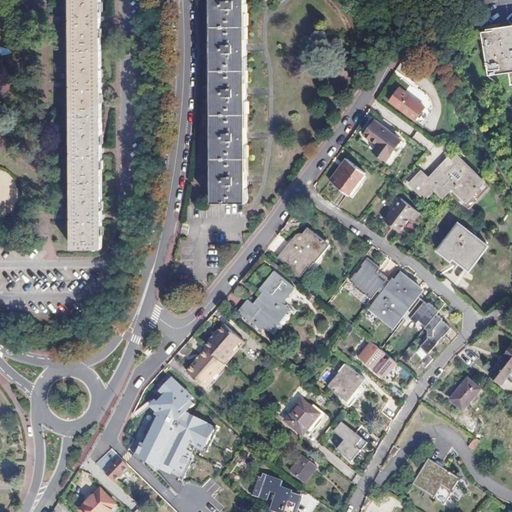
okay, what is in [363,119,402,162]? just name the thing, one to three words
house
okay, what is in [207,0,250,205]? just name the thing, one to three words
building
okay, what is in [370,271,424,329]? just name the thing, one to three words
building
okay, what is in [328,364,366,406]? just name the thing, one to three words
house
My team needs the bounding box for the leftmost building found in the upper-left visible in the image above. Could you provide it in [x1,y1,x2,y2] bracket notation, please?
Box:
[66,0,106,252]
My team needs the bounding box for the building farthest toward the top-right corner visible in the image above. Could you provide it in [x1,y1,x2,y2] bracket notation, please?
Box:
[481,26,512,86]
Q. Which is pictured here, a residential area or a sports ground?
residential area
